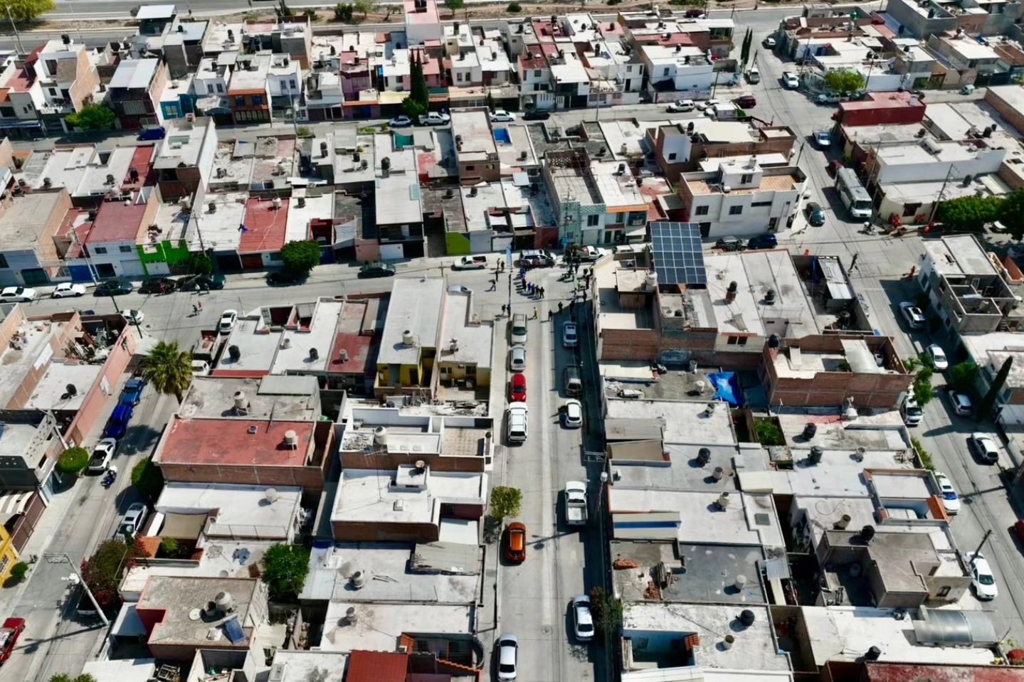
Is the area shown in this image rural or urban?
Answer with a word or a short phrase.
urban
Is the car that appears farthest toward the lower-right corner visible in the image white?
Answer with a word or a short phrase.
Yes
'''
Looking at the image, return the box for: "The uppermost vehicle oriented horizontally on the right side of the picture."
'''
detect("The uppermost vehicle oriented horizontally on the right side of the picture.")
[683,7,709,19]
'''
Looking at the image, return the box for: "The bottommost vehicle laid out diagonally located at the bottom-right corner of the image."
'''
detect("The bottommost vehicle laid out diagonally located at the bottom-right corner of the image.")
[961,554,1004,602]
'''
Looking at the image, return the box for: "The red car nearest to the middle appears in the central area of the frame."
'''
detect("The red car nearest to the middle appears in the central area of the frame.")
[509,373,527,404]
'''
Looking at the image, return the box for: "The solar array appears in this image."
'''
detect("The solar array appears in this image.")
[648,222,706,299]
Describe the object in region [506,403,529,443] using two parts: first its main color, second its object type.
white car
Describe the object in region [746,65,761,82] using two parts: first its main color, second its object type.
gray car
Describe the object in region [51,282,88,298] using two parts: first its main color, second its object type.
white car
